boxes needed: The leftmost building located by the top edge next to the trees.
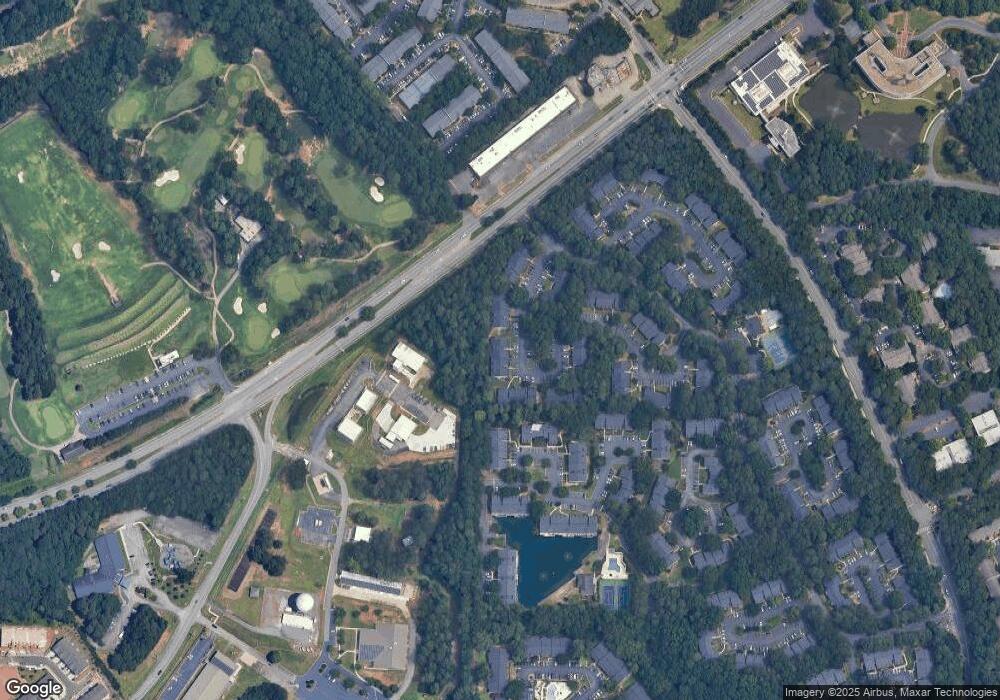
[305,0,354,44]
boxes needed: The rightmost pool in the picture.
[935,283,951,298]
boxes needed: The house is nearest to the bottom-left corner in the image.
[18,671,61,700]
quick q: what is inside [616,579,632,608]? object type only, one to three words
tennis court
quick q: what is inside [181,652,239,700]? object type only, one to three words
building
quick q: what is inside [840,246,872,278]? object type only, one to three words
house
